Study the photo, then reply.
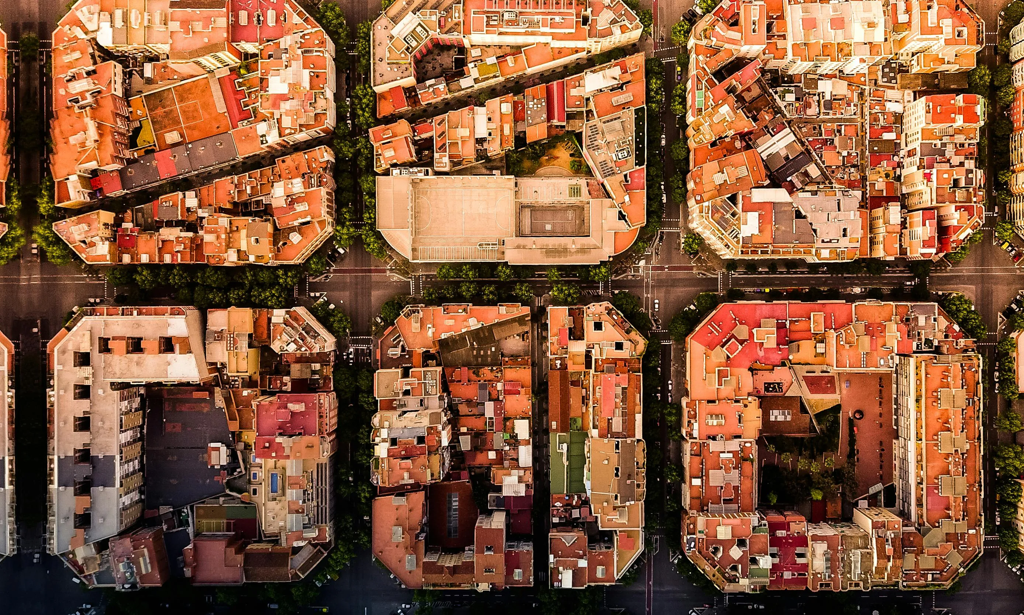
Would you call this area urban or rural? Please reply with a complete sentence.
It looks urban.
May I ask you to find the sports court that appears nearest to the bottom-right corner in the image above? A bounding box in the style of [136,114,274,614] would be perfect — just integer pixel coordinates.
[788,366,841,398]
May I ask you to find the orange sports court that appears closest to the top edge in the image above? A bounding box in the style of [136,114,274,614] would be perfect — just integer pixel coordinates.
[143,78,232,151]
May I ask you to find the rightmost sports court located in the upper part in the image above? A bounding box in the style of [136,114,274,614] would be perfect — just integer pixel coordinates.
[410,176,514,263]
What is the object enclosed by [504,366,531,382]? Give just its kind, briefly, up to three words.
house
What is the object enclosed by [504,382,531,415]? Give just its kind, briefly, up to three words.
house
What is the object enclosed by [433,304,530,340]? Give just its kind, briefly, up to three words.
building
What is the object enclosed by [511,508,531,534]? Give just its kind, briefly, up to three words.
building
